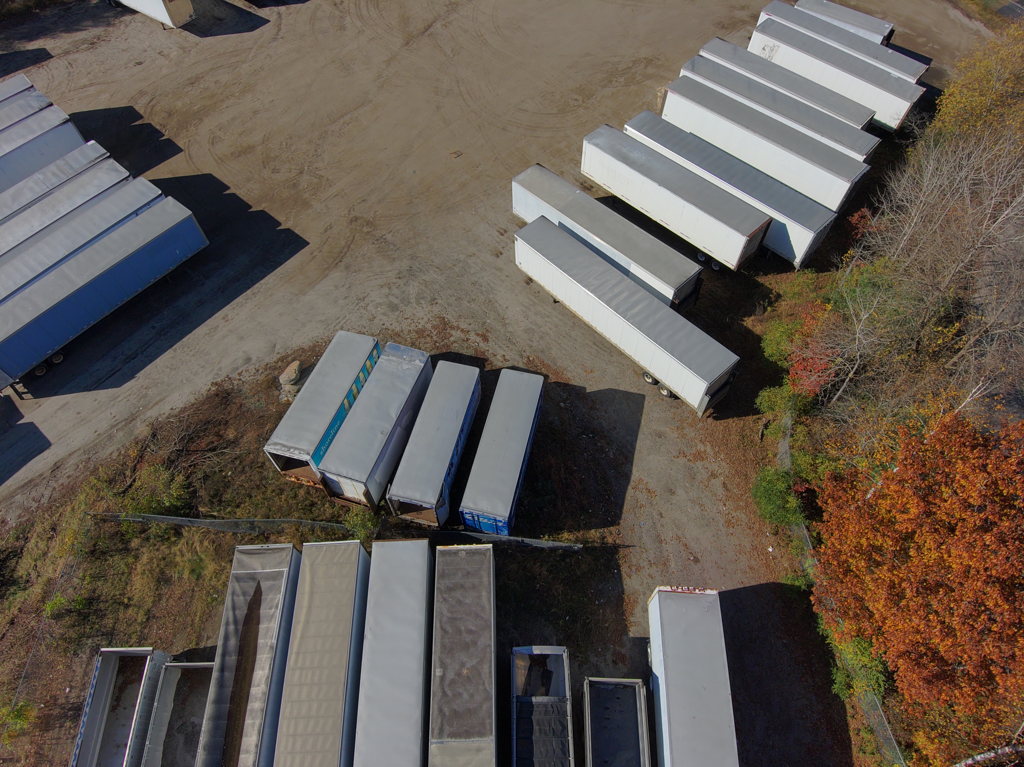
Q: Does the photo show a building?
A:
No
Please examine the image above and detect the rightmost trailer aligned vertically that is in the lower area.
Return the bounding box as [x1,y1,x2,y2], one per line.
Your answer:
[648,585,738,767]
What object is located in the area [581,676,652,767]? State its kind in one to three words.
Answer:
trailer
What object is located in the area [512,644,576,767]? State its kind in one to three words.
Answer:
trailer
